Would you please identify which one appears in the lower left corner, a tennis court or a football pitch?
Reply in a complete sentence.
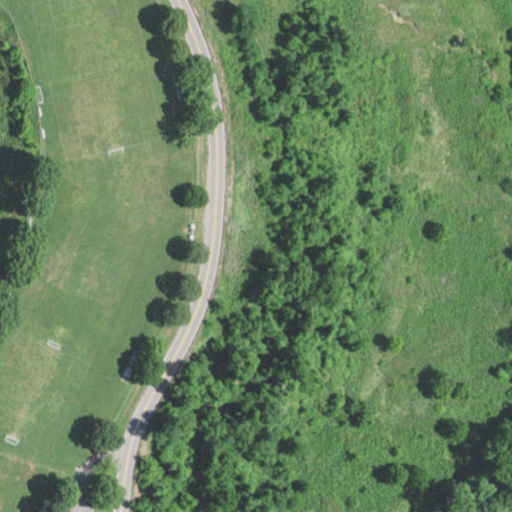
There is a football pitch in the lower left corner.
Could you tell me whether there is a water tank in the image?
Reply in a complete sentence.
No, there appears to be no water tank in this shot.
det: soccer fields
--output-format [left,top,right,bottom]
[30,0,166,162]
[0,328,92,457]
